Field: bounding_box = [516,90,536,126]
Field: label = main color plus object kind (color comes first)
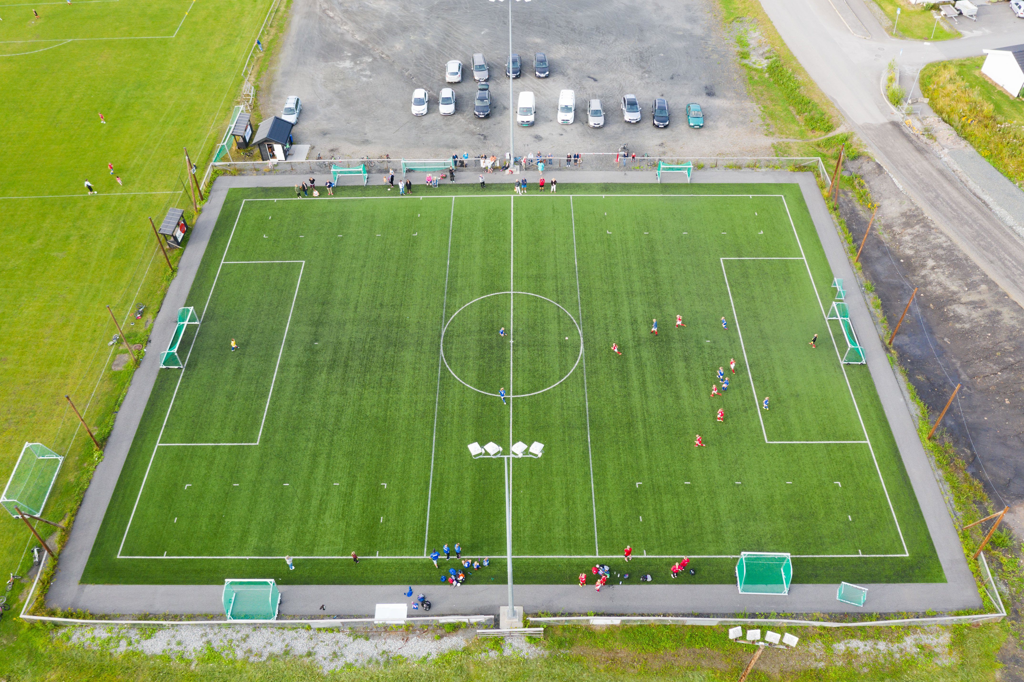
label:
white vehicle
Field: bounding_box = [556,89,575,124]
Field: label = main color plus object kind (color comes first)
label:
white vehicle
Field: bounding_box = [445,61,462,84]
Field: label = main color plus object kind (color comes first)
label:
white car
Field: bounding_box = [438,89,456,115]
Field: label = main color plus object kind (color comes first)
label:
white car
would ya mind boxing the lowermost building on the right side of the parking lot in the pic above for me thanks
[982,46,1024,97]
